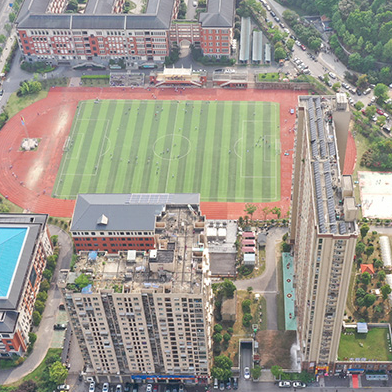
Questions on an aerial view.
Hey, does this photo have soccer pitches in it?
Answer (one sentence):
Yes, this view includes a soccer pitch.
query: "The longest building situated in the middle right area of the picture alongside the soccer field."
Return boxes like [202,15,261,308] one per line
[289,89,372,370]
